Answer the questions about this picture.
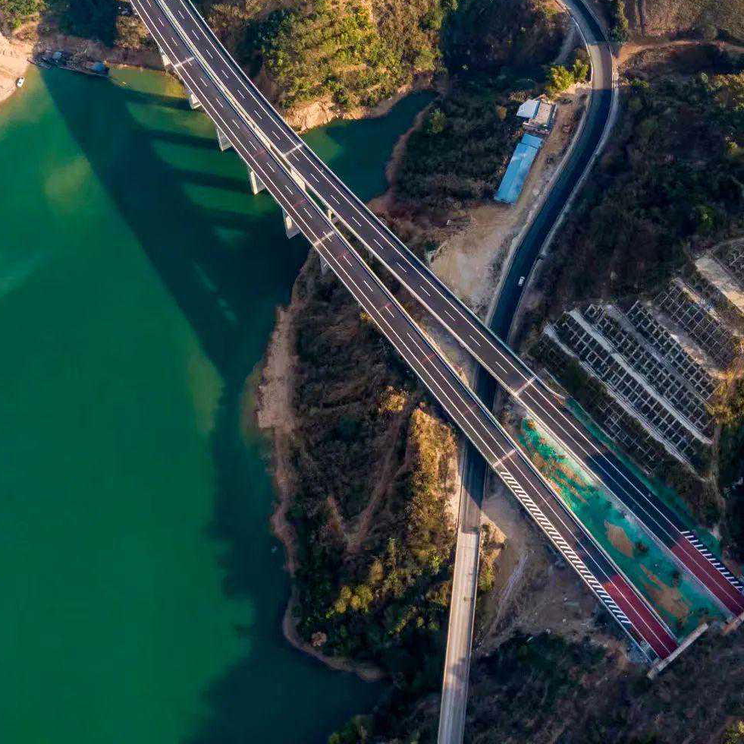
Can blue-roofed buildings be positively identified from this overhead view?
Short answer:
Yes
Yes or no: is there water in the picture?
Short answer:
Yes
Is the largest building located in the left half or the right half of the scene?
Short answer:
right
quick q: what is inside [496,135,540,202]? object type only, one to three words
building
